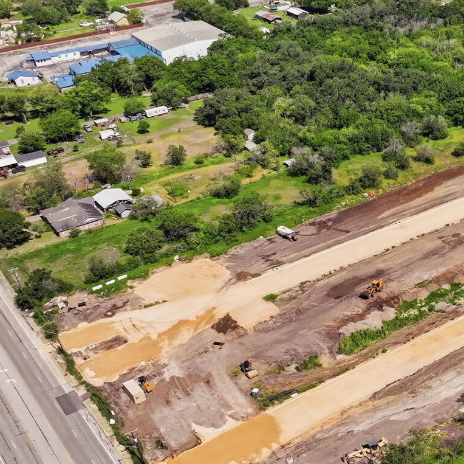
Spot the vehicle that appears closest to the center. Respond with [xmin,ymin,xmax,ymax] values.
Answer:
[276,222,300,242]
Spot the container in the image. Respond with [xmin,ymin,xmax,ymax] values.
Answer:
[122,378,148,408]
